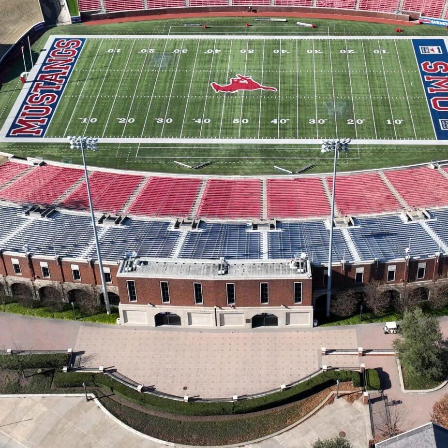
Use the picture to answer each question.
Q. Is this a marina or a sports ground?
sports ground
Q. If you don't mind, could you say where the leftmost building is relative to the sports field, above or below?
below it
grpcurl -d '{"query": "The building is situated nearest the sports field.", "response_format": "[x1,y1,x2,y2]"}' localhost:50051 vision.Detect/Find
[112,257,315,328]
